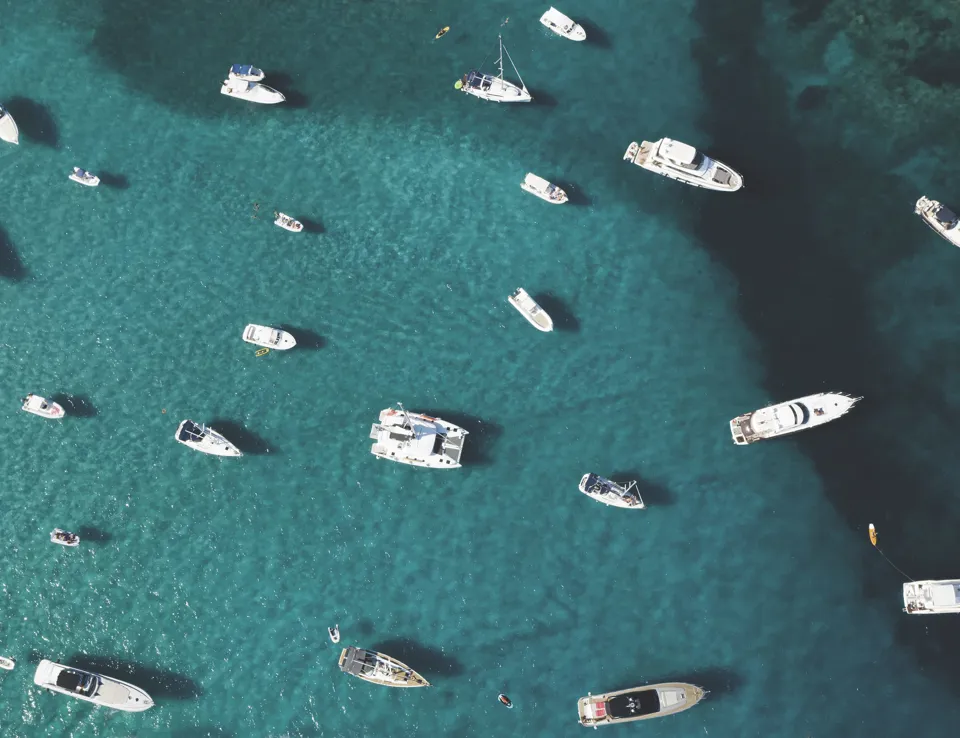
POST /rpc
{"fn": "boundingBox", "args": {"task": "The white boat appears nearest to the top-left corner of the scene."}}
[0,109,21,145]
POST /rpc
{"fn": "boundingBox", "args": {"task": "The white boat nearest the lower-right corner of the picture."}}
[899,580,960,613]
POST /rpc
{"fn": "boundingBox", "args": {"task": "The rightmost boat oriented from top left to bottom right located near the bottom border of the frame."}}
[497,693,513,708]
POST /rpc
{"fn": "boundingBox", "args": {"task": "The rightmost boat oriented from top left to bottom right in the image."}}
[909,200,960,249]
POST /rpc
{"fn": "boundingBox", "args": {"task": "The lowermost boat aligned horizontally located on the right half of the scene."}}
[576,683,710,730]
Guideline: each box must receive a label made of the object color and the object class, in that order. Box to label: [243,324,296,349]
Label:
white boat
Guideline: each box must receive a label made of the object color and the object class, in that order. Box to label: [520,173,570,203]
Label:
white boat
